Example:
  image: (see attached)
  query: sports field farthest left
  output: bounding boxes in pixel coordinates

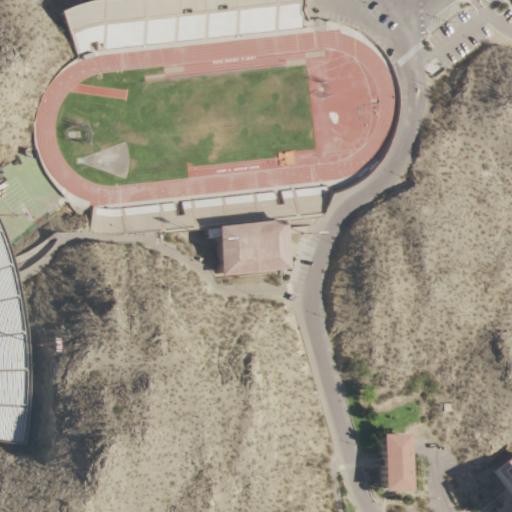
[0,152,60,243]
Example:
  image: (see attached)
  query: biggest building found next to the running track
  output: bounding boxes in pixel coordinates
[206,220,293,274]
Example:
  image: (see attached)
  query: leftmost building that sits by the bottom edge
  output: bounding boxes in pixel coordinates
[378,434,417,491]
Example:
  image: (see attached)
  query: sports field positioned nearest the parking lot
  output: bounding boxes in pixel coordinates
[53,49,336,186]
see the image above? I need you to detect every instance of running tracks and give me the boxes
[34,30,398,204]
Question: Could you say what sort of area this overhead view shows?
sports ground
